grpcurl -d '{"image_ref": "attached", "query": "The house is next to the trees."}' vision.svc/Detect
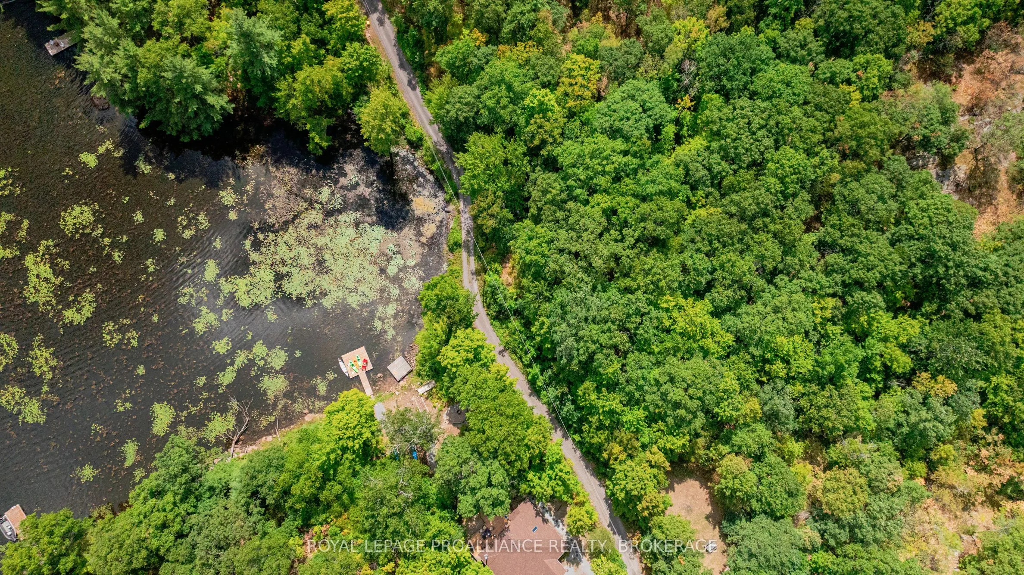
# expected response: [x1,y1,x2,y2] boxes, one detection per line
[485,496,575,575]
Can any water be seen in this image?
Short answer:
Yes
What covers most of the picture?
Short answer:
trees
